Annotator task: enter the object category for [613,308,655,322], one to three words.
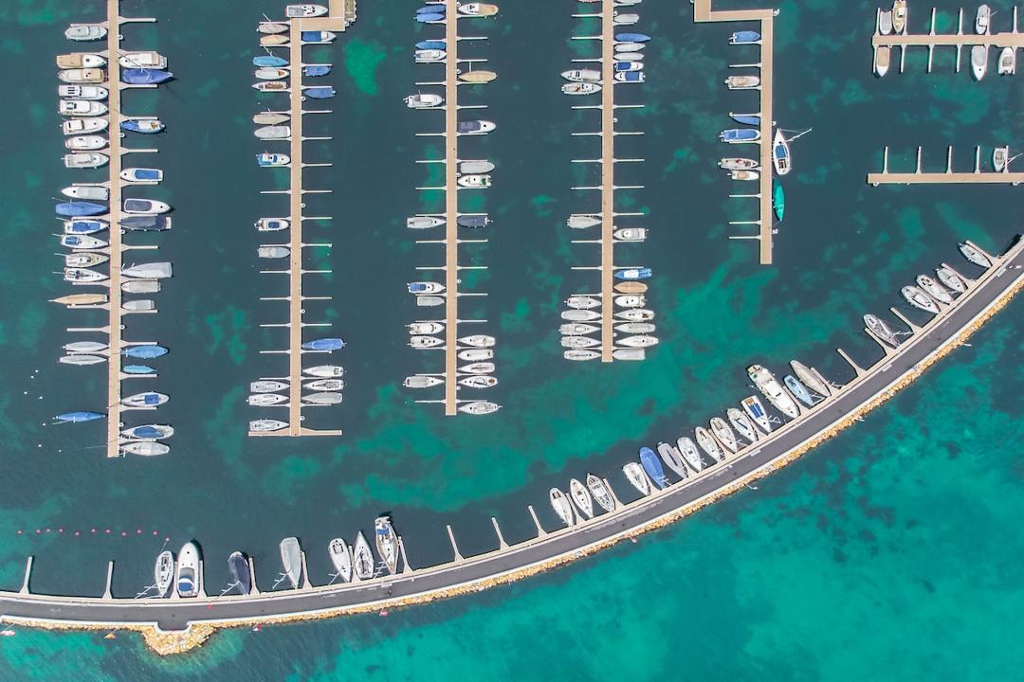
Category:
boat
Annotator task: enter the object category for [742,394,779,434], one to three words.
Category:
boat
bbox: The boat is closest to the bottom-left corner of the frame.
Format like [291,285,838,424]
[138,550,175,598]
